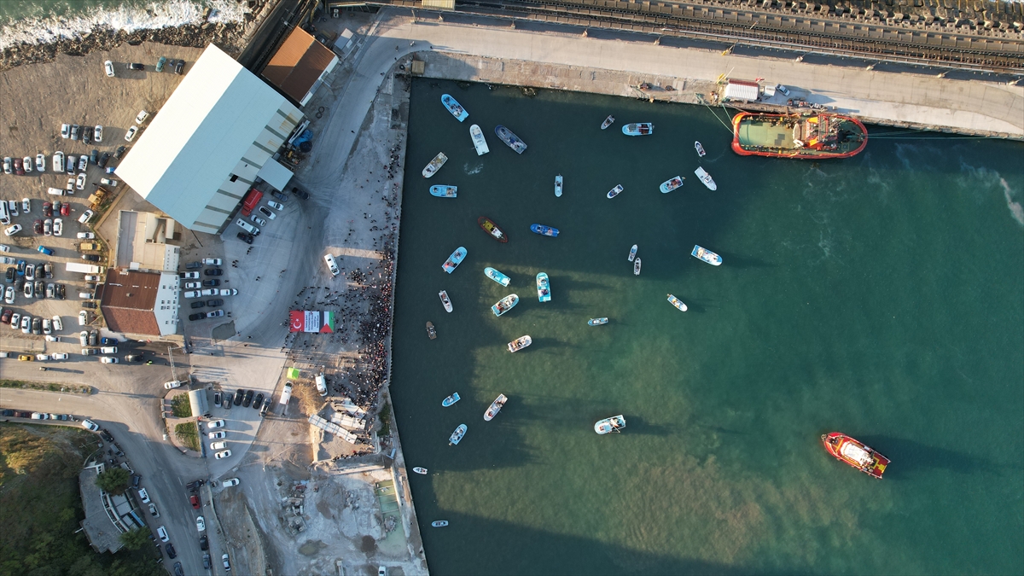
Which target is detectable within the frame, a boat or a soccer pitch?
boat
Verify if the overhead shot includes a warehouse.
Yes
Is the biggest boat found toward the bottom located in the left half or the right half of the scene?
right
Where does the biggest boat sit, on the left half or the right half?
right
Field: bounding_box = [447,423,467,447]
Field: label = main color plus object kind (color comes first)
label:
blue boat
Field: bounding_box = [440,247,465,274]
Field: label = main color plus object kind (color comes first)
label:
blue boat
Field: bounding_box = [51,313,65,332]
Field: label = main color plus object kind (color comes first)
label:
white vehicle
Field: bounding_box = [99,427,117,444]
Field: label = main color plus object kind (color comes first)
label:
black car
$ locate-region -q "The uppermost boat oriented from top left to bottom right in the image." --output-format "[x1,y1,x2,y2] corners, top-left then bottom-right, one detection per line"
[442,94,469,123]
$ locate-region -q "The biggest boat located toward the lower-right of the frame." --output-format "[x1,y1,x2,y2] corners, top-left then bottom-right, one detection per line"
[822,435,893,482]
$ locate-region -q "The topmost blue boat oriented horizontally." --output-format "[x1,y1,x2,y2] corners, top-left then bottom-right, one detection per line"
[622,123,655,136]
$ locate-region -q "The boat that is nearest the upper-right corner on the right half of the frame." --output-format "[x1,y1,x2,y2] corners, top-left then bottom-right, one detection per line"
[730,107,868,160]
